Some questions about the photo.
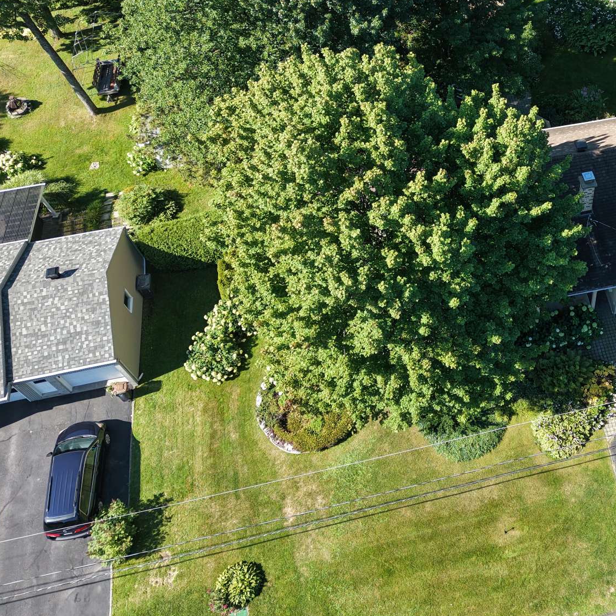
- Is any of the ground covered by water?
No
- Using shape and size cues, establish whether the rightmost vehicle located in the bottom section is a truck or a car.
car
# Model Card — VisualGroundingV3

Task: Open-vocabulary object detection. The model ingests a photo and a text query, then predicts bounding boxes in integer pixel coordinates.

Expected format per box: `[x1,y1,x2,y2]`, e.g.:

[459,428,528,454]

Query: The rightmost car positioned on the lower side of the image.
[33,420,108,547]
